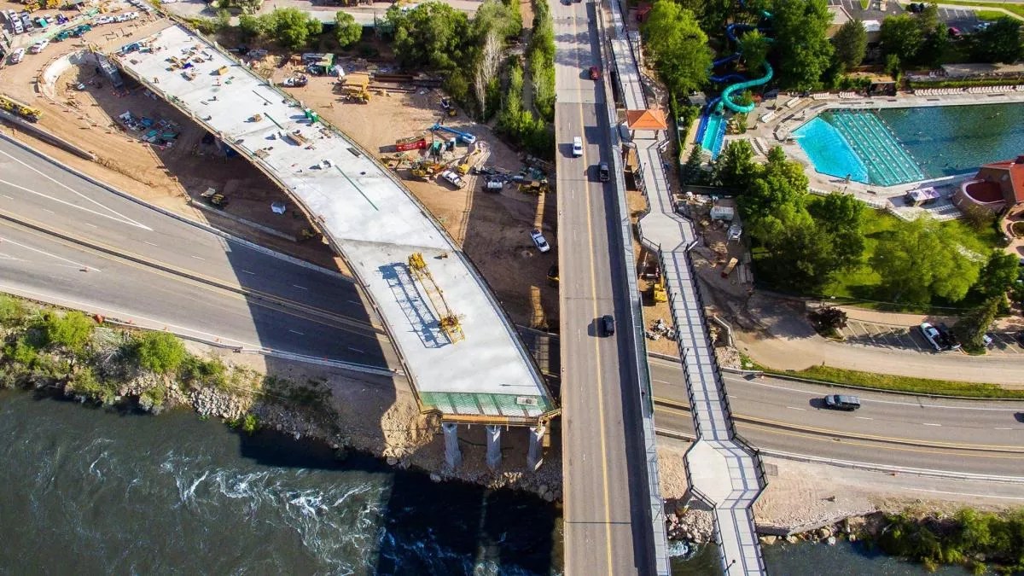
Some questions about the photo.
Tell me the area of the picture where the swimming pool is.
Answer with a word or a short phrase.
top right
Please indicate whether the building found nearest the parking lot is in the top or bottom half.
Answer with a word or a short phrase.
top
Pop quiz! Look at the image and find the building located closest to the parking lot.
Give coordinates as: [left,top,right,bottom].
[959,135,1024,221]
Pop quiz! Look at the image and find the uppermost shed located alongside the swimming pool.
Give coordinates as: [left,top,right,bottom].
[866,81,898,102]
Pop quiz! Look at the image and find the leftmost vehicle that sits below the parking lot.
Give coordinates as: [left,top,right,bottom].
[826,393,864,410]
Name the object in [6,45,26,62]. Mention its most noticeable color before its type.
white vehicle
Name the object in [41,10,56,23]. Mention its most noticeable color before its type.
white vehicle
